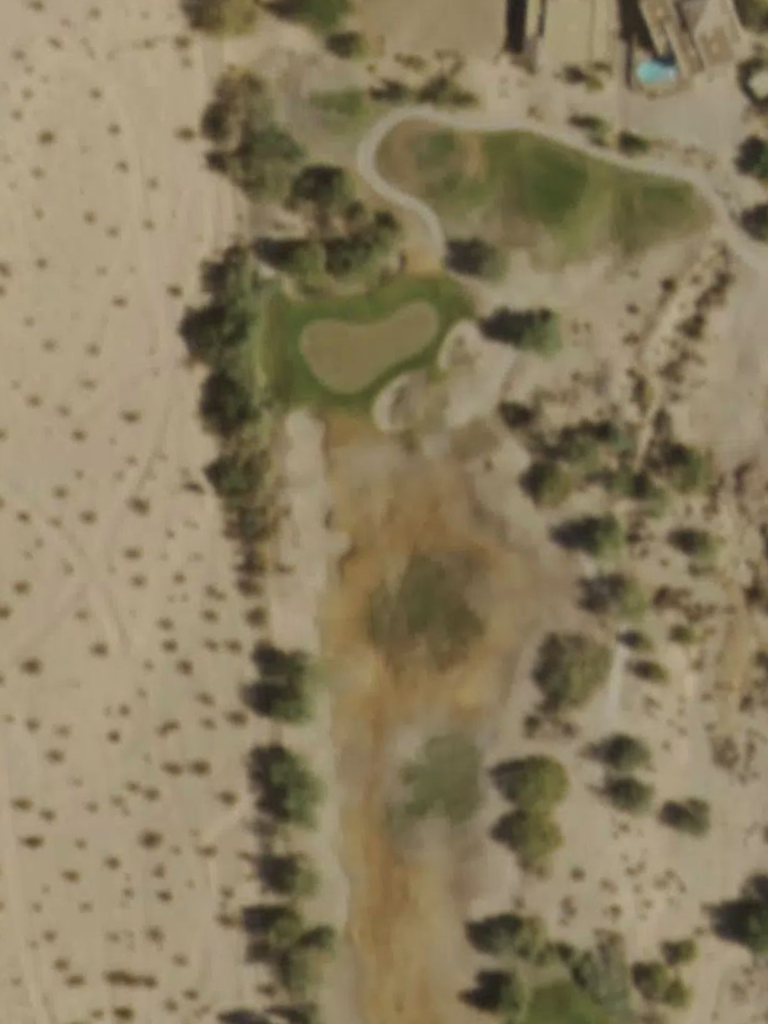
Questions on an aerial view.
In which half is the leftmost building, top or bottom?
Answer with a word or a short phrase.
top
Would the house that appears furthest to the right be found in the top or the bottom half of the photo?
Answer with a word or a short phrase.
top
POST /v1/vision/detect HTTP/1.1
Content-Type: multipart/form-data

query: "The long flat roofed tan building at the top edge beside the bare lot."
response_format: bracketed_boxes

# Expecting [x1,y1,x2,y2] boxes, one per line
[526,0,610,61]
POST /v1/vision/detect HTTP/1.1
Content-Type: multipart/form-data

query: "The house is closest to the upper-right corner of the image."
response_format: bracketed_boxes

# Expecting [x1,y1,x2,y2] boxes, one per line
[642,0,743,78]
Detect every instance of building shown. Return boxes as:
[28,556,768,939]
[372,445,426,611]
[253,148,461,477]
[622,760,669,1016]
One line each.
[642,0,743,78]
[526,0,610,61]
